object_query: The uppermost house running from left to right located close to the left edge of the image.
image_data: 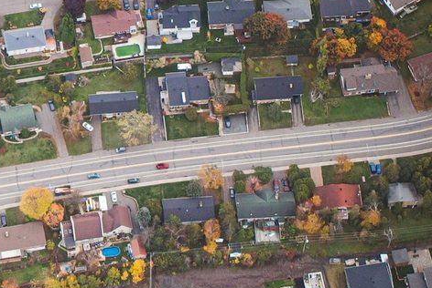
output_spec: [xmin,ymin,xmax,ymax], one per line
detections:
[2,26,56,55]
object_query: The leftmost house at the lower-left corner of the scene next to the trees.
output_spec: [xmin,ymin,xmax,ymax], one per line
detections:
[0,222,50,261]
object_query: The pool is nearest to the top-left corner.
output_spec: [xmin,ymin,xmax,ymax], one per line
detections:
[114,43,143,57]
